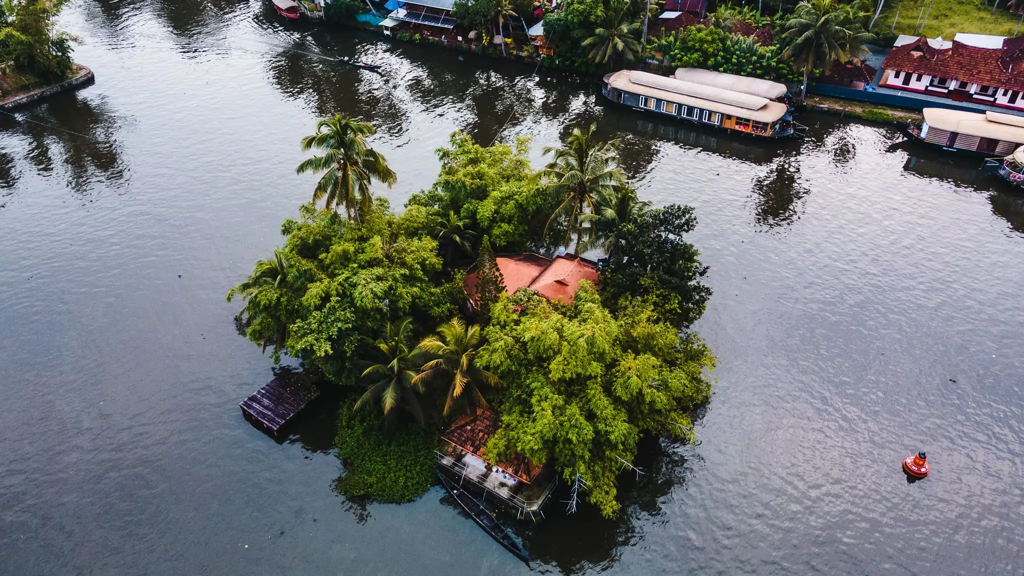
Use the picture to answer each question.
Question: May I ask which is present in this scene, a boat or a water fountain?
boat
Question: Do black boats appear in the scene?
Yes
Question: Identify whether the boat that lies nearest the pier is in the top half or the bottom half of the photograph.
bottom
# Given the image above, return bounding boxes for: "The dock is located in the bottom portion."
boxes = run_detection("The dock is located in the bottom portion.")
[241,372,327,435]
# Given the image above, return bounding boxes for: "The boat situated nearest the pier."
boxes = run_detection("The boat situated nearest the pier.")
[438,460,529,564]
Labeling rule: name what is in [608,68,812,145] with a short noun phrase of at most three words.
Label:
boat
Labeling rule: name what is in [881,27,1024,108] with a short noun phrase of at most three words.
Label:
house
